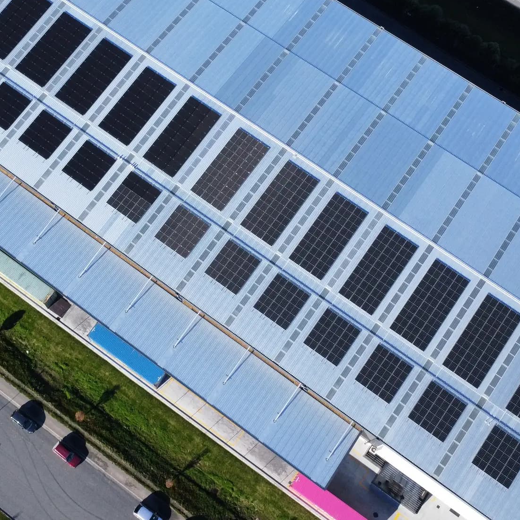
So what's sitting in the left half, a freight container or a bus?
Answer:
freight container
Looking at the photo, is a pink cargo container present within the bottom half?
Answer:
Yes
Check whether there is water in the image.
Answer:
No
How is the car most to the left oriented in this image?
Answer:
on a diagonal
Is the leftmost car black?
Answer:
Yes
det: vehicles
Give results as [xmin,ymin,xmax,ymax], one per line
[13,407,44,435]
[52,441,82,469]
[133,502,163,520]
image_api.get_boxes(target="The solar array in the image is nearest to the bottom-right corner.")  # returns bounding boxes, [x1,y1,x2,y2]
[473,425,520,490]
